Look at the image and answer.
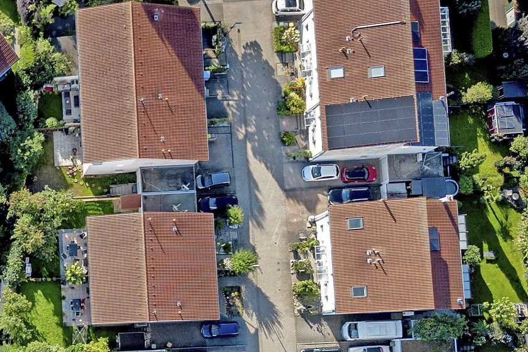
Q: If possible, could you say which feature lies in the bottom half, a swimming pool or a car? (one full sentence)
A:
What appears in the bottom half is a car.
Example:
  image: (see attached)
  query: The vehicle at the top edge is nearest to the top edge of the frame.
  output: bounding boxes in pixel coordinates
[271,0,305,16]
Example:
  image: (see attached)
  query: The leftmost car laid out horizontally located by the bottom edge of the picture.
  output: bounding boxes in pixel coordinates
[200,321,238,339]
